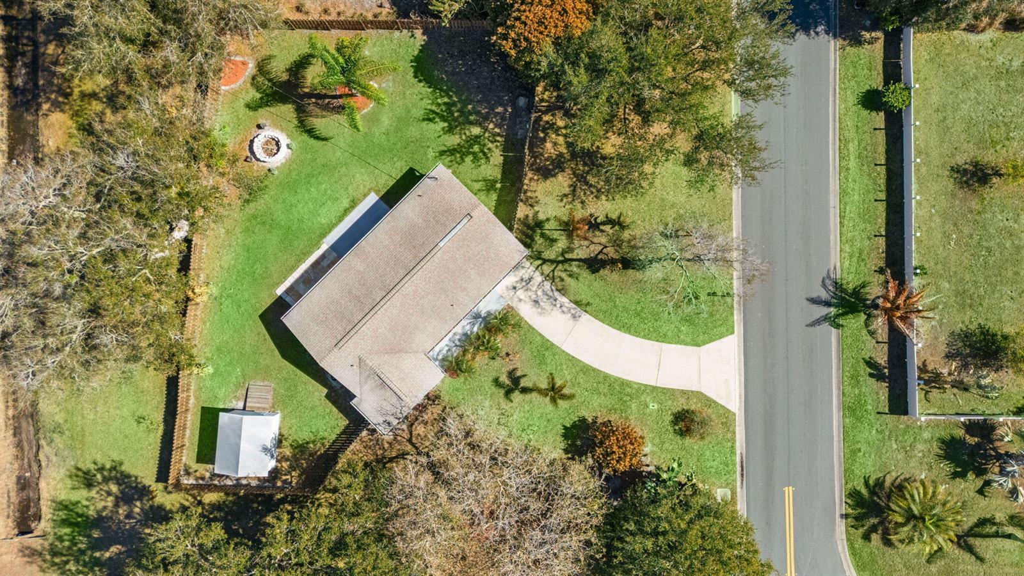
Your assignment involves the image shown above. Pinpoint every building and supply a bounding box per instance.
[280,162,530,435]
[214,409,281,477]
